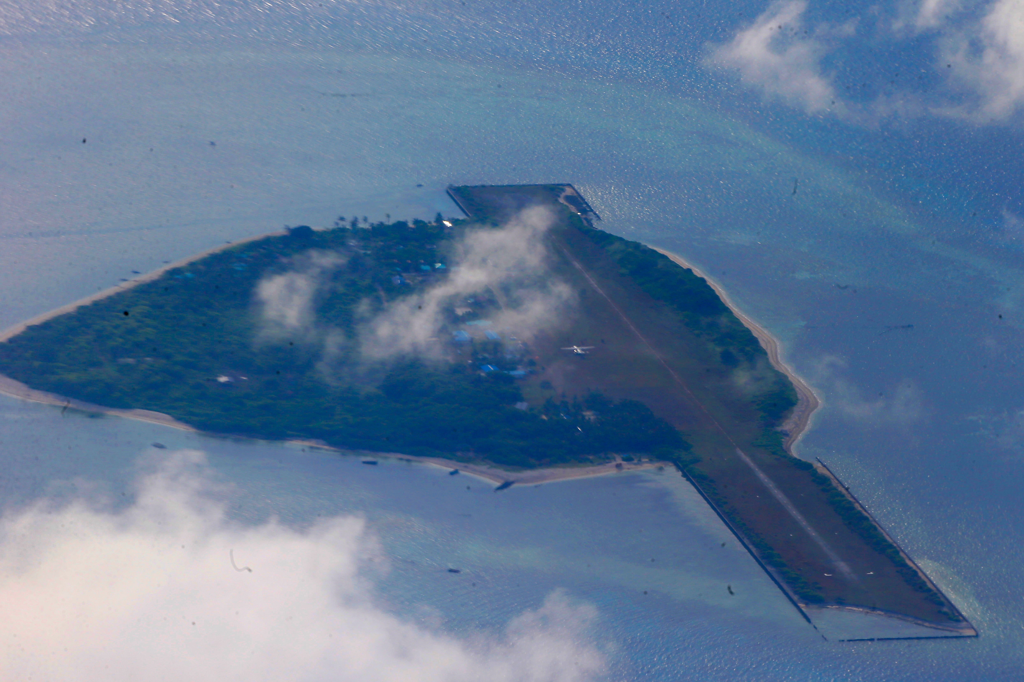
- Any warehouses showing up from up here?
No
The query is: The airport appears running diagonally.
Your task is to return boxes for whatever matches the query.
[457,190,951,628]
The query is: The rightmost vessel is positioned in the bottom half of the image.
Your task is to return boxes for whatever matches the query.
[494,476,517,491]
